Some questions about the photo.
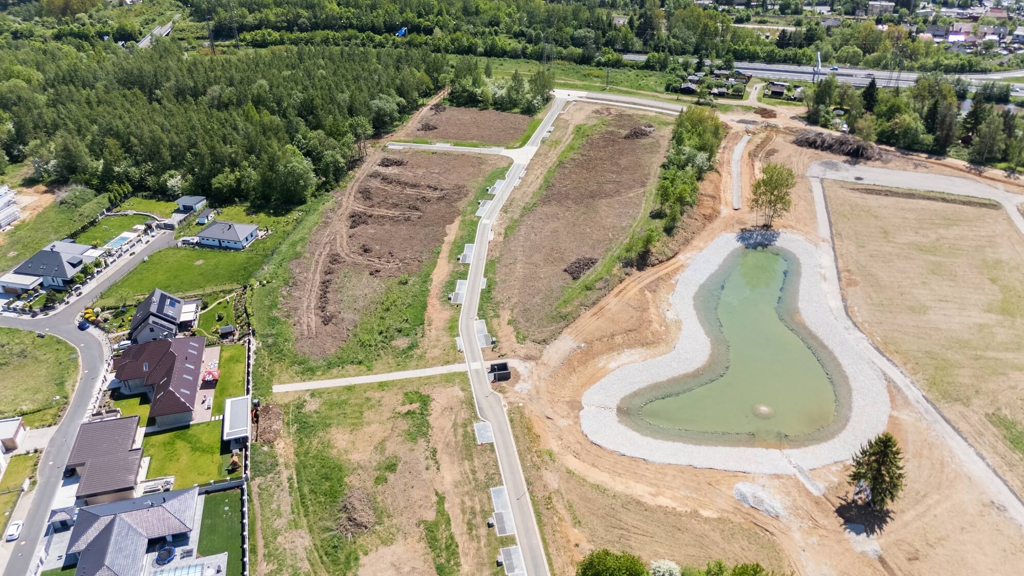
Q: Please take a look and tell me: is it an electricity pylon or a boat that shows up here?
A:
electricity pylon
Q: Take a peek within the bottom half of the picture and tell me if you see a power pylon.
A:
No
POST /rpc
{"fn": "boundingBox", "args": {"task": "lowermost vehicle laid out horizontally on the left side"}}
[53,467,78,479]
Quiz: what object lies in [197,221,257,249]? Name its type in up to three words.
house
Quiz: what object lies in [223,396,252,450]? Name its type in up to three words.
building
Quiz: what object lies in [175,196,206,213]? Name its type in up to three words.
building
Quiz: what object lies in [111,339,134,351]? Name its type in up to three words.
vehicle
